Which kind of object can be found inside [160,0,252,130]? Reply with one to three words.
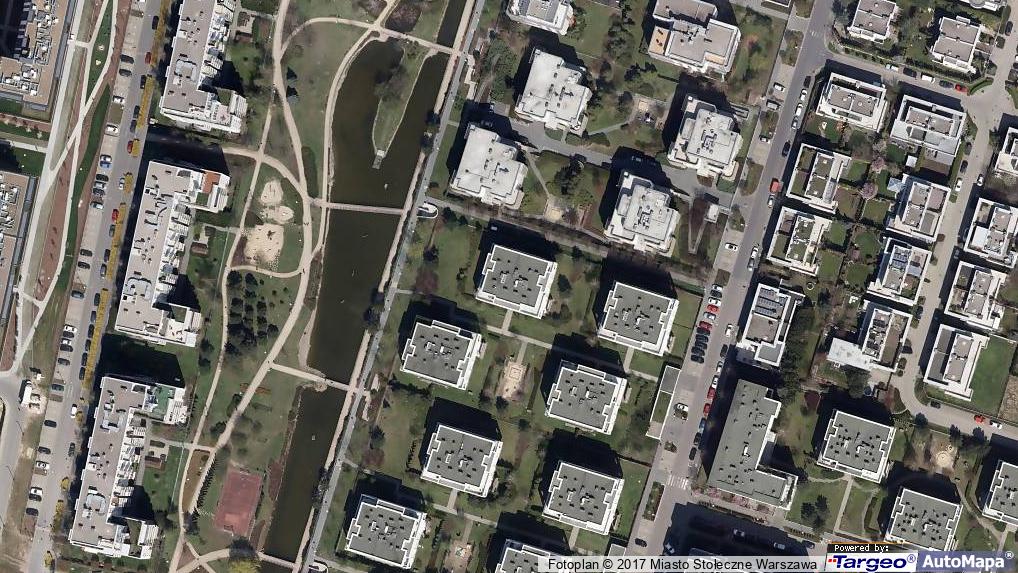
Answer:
building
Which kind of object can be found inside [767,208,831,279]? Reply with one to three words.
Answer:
house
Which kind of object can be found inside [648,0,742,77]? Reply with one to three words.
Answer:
building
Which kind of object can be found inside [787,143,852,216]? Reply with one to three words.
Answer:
house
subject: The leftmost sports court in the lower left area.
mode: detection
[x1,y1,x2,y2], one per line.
[215,470,264,540]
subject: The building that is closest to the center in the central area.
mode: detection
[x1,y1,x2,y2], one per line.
[477,247,559,319]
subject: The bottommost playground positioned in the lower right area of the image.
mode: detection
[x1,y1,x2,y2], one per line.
[926,441,955,472]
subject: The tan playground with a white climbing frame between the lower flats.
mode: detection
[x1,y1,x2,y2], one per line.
[444,539,471,573]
